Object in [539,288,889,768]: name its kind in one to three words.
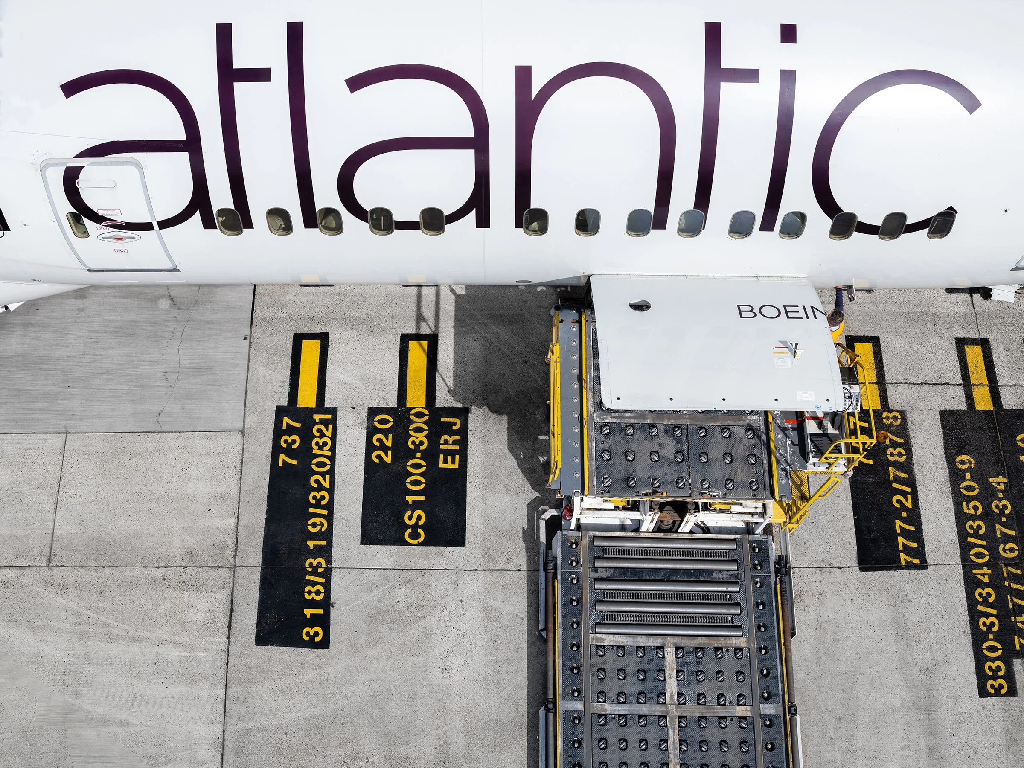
work vehicle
